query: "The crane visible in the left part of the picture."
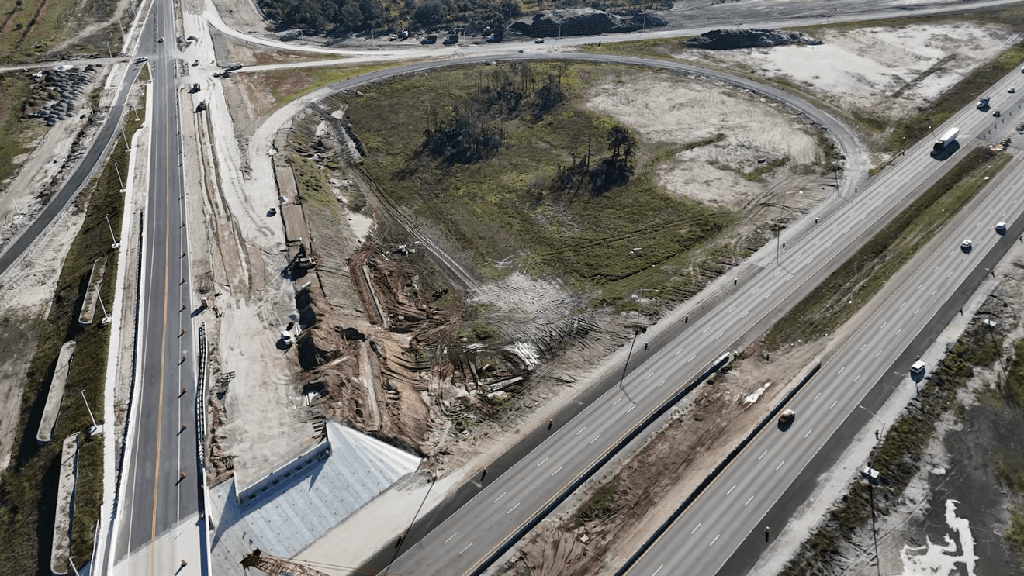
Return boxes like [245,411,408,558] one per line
[238,554,319,576]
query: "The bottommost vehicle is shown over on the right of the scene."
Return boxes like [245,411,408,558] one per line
[775,407,796,426]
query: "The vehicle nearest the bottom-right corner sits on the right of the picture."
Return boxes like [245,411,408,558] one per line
[910,359,928,376]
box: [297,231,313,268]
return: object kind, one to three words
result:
work vehicle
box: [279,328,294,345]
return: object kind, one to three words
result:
vehicle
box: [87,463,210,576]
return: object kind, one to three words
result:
bridge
